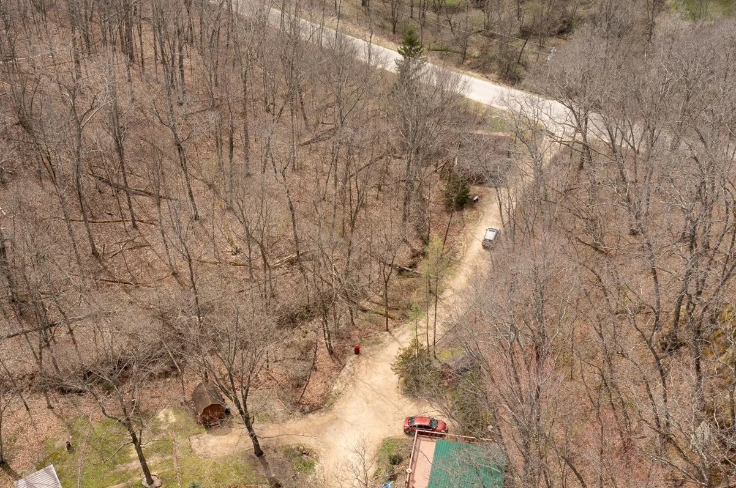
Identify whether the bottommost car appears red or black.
red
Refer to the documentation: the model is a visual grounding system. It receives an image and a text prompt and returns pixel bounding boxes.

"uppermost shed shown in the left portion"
[199,373,234,429]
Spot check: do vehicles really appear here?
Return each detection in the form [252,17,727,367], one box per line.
[403,413,449,434]
[480,228,500,251]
